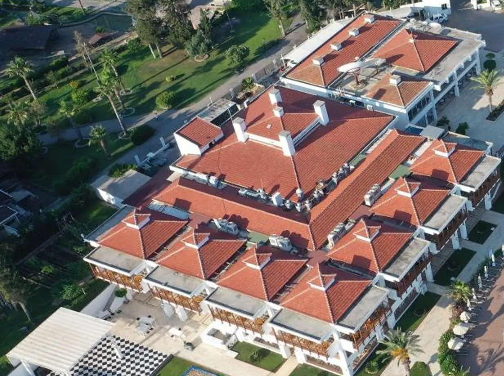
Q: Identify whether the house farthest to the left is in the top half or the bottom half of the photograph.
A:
top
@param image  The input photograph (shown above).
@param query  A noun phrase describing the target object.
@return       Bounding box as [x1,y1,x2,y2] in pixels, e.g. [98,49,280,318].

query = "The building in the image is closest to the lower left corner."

[8,308,127,376]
